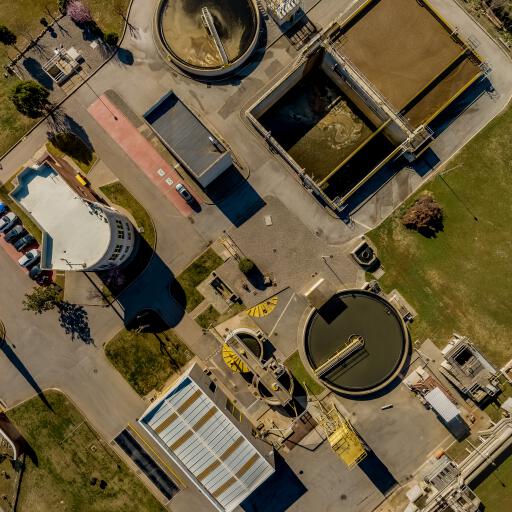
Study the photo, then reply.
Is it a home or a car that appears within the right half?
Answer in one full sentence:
You can see a home within the right half.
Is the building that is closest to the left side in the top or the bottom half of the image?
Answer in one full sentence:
Seen from above, the building that is closest to the left side lies in the bottom half of the view.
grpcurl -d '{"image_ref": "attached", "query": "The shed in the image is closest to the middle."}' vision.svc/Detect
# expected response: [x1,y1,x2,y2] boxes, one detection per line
[304,278,337,311]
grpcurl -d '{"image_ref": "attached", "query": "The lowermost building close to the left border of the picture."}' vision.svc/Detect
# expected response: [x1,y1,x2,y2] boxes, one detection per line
[0,416,30,462]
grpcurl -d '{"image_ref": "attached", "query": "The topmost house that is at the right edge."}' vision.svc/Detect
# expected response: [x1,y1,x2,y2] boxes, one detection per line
[438,336,500,392]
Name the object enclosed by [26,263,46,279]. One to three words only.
car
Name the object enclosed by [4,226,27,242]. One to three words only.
car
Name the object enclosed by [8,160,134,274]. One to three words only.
building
